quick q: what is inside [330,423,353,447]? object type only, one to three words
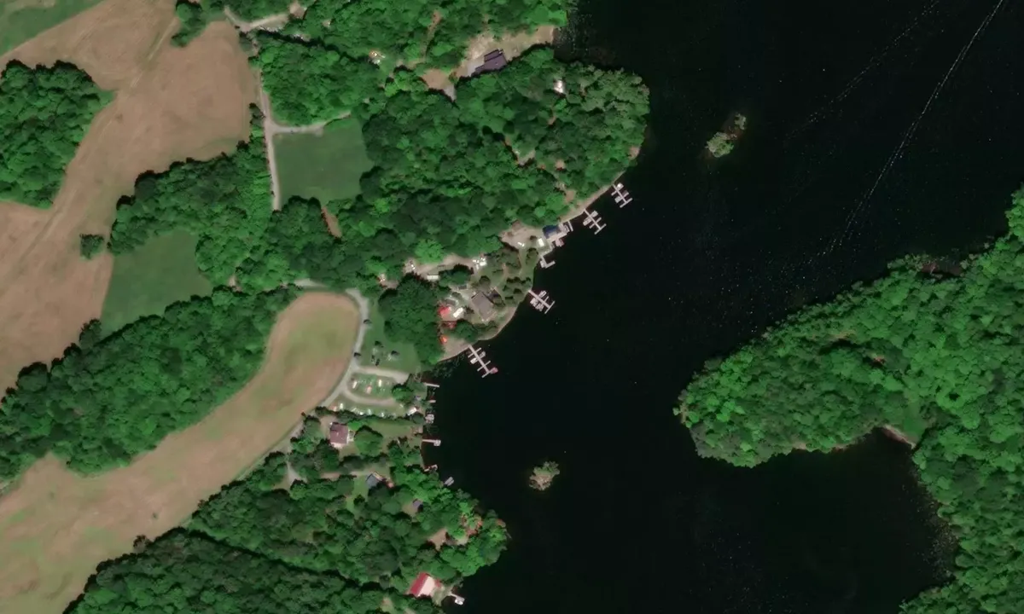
house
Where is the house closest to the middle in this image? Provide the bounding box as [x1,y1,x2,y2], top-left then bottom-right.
[470,292,498,321]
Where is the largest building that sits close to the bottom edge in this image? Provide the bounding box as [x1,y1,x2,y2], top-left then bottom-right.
[409,571,436,600]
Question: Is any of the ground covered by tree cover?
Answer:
Yes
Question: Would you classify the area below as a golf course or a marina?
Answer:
marina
